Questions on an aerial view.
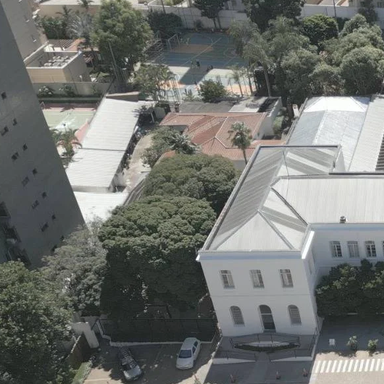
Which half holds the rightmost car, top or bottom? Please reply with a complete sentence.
You can find the rightmost car in the bottom half.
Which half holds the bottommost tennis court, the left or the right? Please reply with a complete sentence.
The bottommost tennis court is on the left side of the image.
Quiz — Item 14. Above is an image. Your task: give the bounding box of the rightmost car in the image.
[168,333,203,369]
